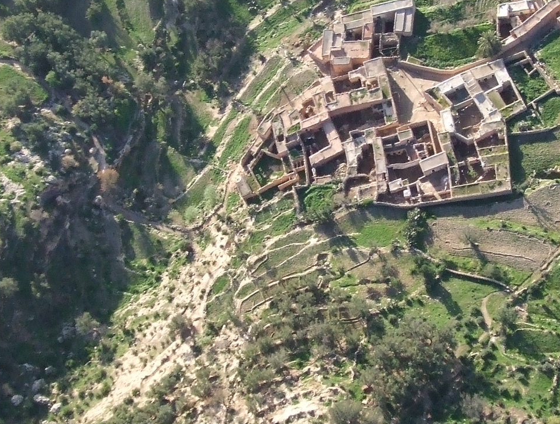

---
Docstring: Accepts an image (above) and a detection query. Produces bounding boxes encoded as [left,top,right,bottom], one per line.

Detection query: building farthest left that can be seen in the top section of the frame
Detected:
[272,112,313,187]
